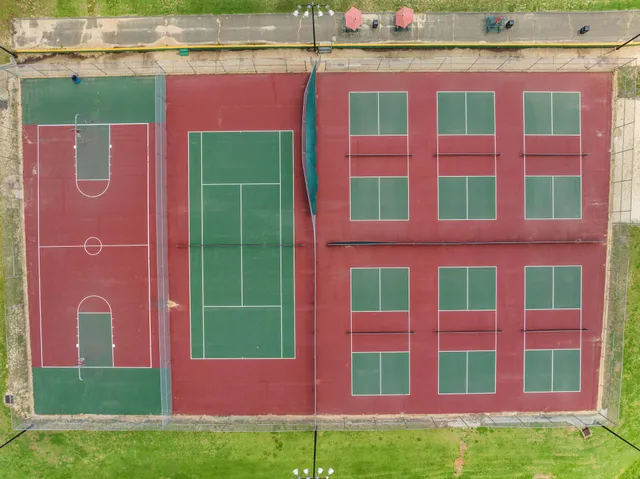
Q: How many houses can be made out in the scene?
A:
0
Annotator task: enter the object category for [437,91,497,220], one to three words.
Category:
sports court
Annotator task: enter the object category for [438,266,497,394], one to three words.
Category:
sports court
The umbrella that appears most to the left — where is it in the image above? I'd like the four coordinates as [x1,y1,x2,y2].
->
[344,9,364,31]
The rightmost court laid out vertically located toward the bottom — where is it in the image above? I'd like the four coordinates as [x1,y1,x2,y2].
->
[524,266,582,393]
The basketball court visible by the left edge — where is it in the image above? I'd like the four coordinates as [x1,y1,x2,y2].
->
[20,74,171,415]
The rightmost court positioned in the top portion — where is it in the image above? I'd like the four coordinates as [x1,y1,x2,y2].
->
[524,91,582,219]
